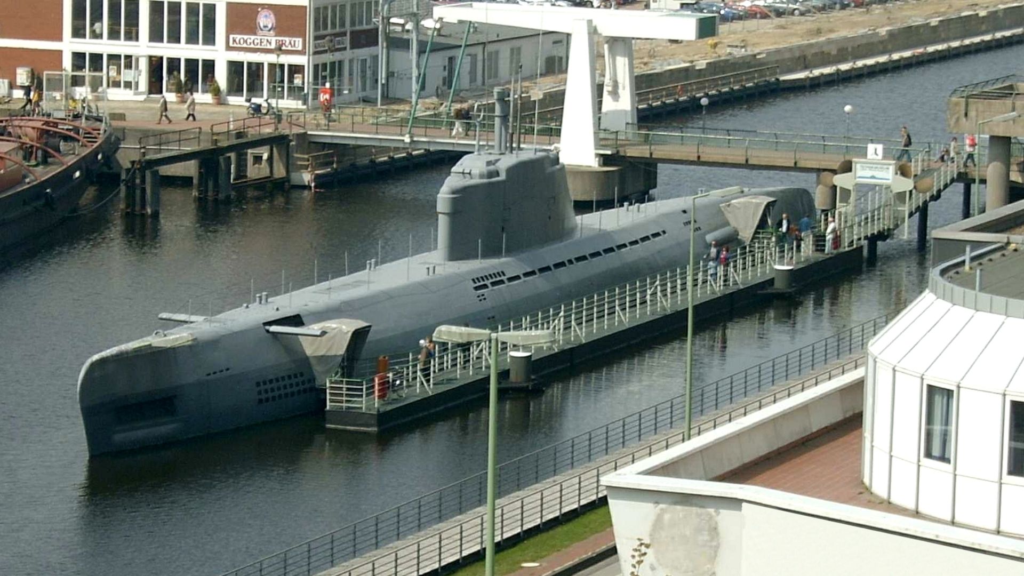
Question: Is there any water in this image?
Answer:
Yes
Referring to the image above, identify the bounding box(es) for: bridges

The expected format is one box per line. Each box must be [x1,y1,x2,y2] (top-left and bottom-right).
[301,0,1024,221]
